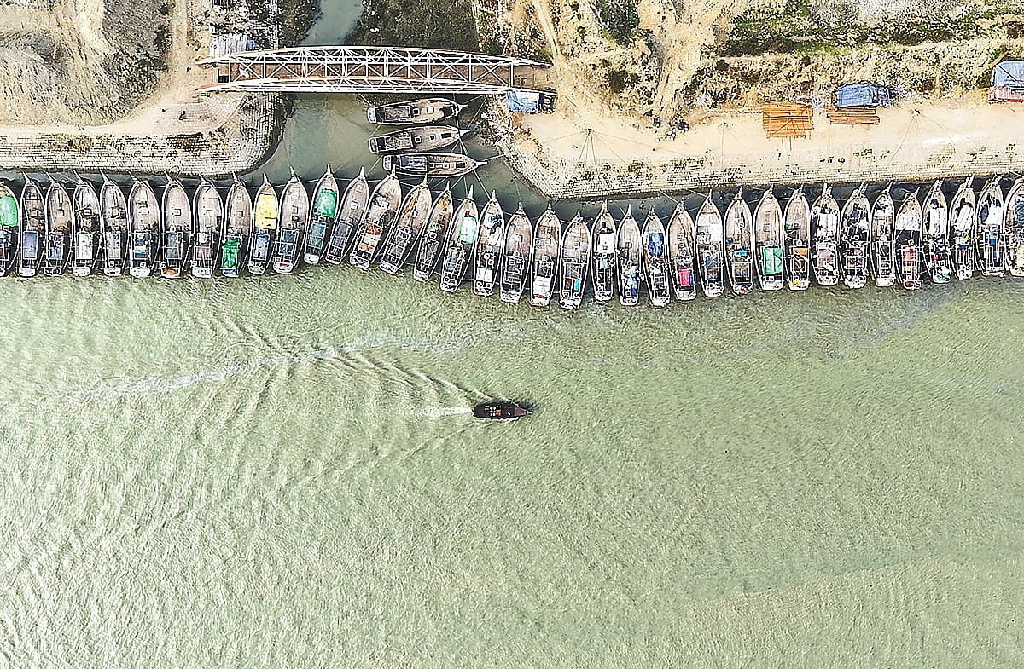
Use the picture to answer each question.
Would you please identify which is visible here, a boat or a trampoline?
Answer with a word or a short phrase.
boat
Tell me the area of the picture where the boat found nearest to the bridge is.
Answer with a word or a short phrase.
top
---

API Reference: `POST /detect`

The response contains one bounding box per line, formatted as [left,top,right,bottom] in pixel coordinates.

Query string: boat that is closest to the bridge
[368,100,467,127]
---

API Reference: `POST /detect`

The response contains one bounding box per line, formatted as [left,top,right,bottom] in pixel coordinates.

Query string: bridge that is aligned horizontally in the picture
[192,46,560,93]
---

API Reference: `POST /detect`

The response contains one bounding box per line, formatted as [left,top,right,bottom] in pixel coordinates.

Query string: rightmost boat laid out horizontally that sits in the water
[472,403,532,421]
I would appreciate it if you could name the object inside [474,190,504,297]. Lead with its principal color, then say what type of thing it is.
white boat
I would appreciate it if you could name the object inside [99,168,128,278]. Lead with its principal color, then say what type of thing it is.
white boat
